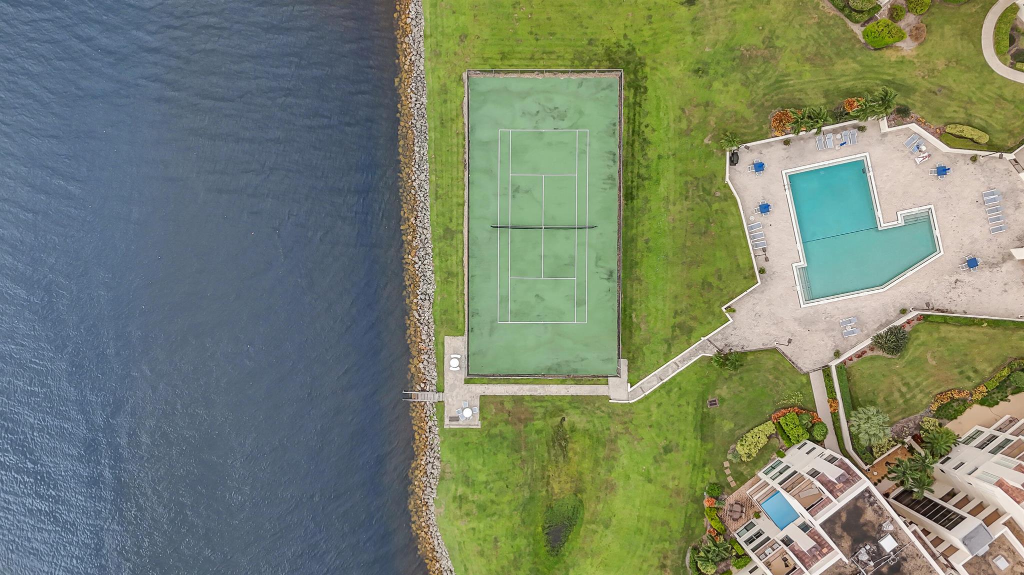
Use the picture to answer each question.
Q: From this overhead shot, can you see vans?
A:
No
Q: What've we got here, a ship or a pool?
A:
pool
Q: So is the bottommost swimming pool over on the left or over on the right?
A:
right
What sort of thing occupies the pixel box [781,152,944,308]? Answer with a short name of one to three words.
swimming pool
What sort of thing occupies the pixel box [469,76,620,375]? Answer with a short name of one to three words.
tennis court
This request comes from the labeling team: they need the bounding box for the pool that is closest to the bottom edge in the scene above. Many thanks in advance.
[762,490,797,527]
